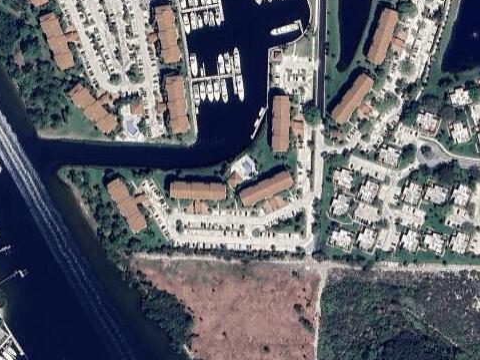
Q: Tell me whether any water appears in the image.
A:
Yes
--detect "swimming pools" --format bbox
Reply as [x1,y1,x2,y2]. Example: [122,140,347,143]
[240,160,254,176]
[124,119,140,137]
